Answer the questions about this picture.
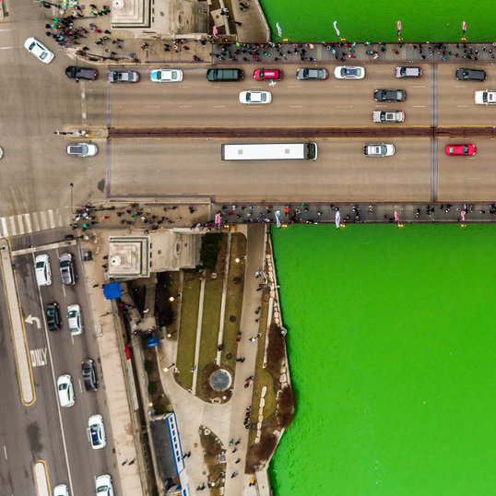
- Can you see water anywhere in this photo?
Yes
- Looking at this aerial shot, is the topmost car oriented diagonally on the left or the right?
left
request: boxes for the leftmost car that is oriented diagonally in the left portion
[24,36,57,64]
